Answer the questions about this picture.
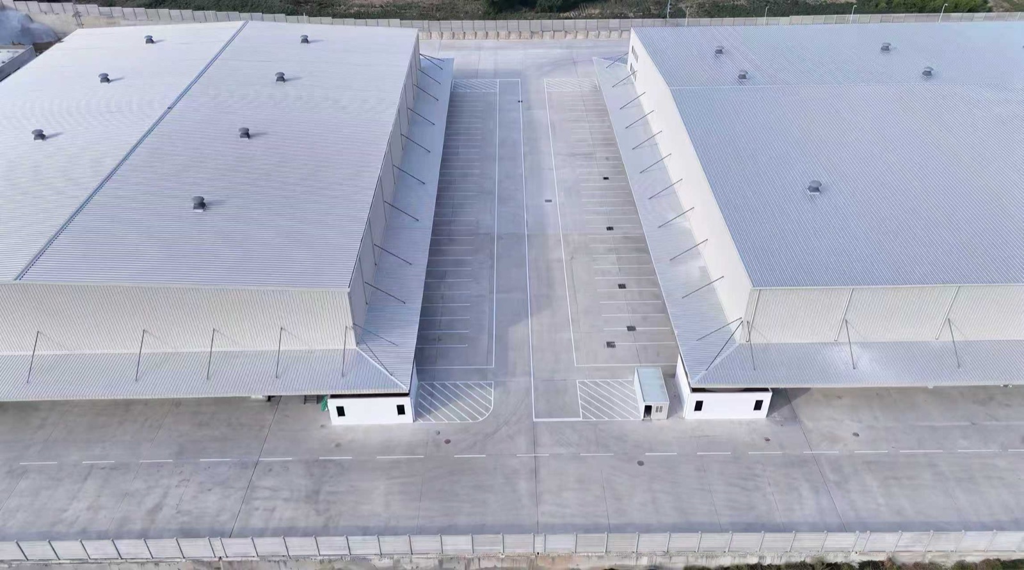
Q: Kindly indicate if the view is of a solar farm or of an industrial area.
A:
industrial area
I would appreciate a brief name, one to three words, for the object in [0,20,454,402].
warehouse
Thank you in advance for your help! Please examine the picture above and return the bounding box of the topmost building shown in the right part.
[592,22,1024,390]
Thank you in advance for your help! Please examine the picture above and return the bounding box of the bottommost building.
[635,367,669,422]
